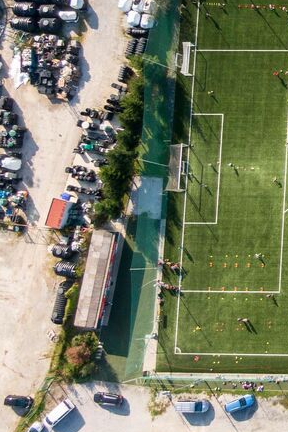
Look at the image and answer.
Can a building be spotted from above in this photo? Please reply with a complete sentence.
No, I can't see a single building in this photo.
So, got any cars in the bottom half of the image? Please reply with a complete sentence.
Yes, looking in the bottom half of the image, one can make out a car.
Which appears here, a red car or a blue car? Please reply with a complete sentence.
It is a blue car that can be seen here.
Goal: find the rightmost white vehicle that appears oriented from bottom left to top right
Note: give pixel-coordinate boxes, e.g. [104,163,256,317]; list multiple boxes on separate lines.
[43,398,80,427]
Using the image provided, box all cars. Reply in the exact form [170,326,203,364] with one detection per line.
[26,420,46,432]
[92,391,125,407]
[43,398,80,427]
[223,394,257,414]
[174,400,212,416]
[4,395,35,409]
